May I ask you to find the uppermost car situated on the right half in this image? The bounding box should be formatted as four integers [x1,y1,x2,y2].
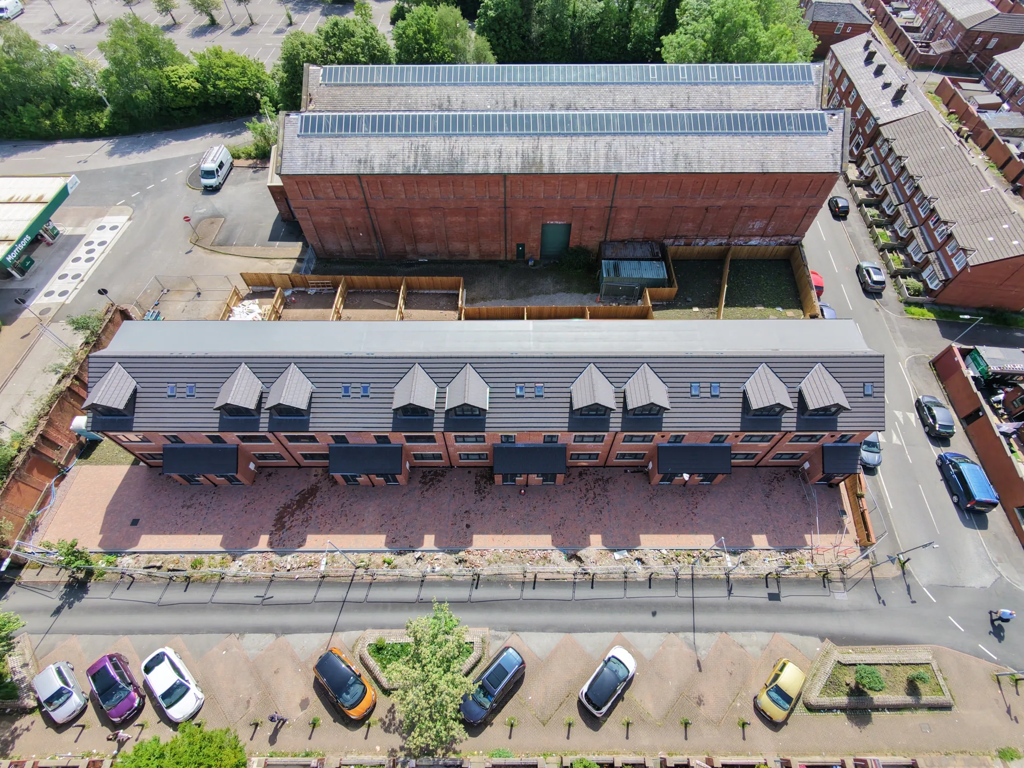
[826,196,852,221]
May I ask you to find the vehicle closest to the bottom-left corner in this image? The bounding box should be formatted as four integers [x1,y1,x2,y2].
[30,654,91,728]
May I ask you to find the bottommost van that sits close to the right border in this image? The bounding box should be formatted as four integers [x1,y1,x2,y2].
[933,456,1008,515]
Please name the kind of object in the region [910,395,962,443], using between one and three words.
car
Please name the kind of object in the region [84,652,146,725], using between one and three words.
car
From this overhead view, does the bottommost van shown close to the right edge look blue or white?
blue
